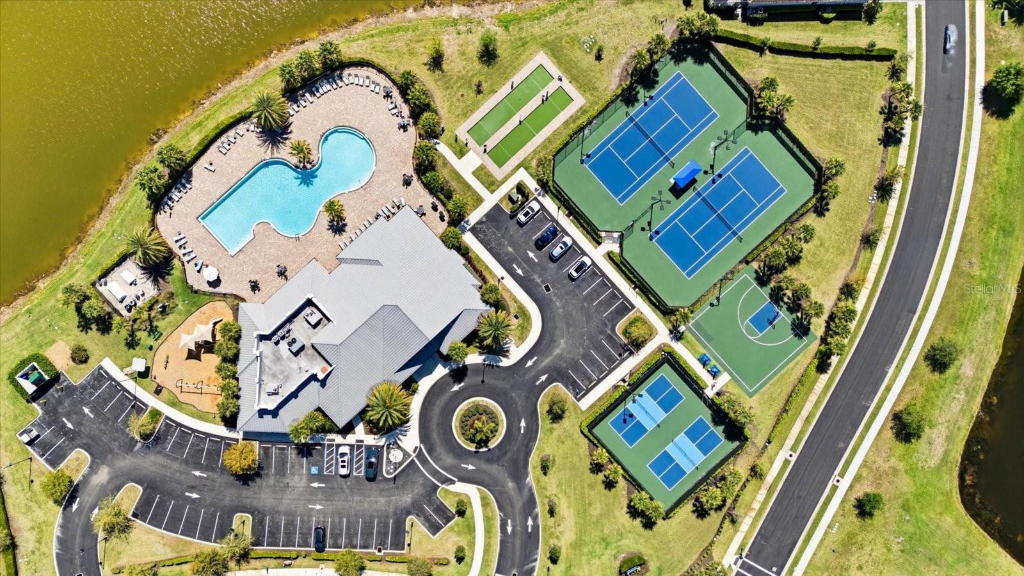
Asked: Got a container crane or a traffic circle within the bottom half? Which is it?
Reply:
traffic circle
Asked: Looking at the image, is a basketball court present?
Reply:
Yes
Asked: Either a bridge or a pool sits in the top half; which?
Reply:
pool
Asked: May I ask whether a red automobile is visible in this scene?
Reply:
No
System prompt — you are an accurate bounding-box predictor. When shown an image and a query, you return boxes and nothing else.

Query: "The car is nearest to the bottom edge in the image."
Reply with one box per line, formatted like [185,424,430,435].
[313,525,327,552]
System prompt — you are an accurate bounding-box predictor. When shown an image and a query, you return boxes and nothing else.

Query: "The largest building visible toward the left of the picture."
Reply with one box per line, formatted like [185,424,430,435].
[238,204,493,432]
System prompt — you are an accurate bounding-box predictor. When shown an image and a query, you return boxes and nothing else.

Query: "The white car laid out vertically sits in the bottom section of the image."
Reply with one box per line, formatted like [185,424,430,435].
[338,446,351,474]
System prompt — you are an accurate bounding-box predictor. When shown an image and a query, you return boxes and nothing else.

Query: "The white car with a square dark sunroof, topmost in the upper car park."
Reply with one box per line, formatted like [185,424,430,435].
[516,201,541,224]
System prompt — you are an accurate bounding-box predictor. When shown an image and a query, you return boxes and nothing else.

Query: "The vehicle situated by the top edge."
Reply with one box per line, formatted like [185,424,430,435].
[944,26,959,52]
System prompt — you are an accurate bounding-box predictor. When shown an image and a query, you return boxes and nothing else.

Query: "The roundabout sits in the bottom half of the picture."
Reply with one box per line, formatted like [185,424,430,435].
[452,397,506,451]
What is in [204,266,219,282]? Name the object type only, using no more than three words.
umbrella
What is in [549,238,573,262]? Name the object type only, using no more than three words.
car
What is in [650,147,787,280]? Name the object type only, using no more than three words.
tennis court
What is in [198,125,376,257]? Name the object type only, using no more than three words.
swimming pool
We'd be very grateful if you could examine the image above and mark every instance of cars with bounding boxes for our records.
[313,525,327,552]
[944,26,959,52]
[365,449,378,478]
[549,238,573,262]
[534,226,558,250]
[338,446,351,474]
[568,256,593,279]
[516,201,541,224]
